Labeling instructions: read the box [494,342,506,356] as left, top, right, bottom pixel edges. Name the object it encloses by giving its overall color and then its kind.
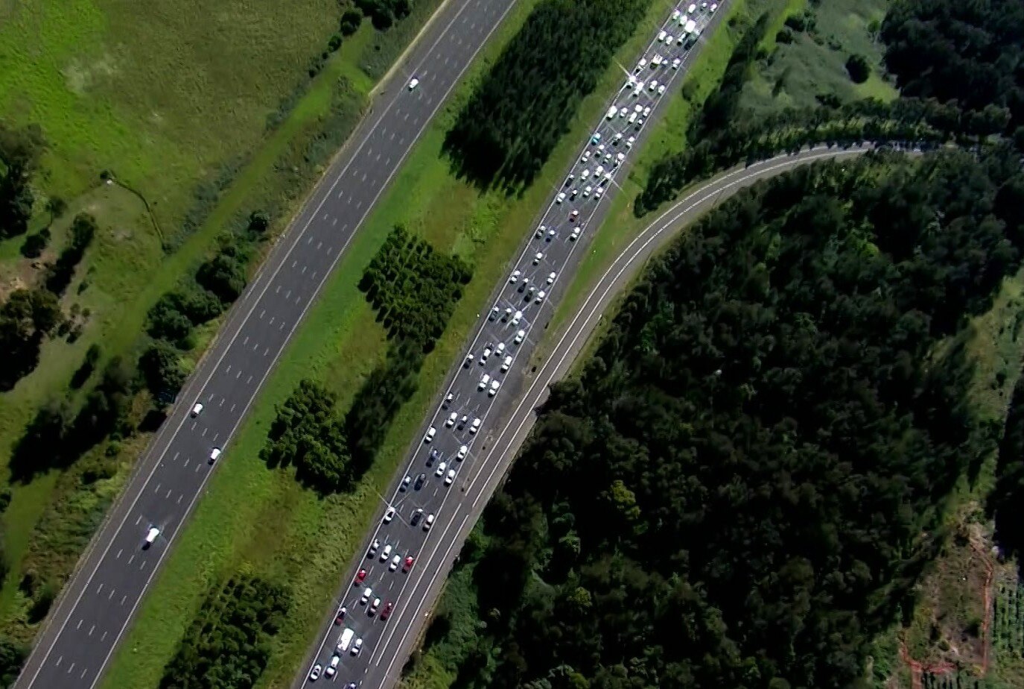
white vehicle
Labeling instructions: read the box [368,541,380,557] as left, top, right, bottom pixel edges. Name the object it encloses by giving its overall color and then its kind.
gray vehicle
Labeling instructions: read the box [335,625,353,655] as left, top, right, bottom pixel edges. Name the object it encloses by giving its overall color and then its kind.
white vehicle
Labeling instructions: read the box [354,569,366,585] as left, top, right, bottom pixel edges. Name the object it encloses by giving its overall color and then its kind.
red vehicle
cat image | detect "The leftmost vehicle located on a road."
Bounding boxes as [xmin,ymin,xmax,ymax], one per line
[144,530,159,546]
